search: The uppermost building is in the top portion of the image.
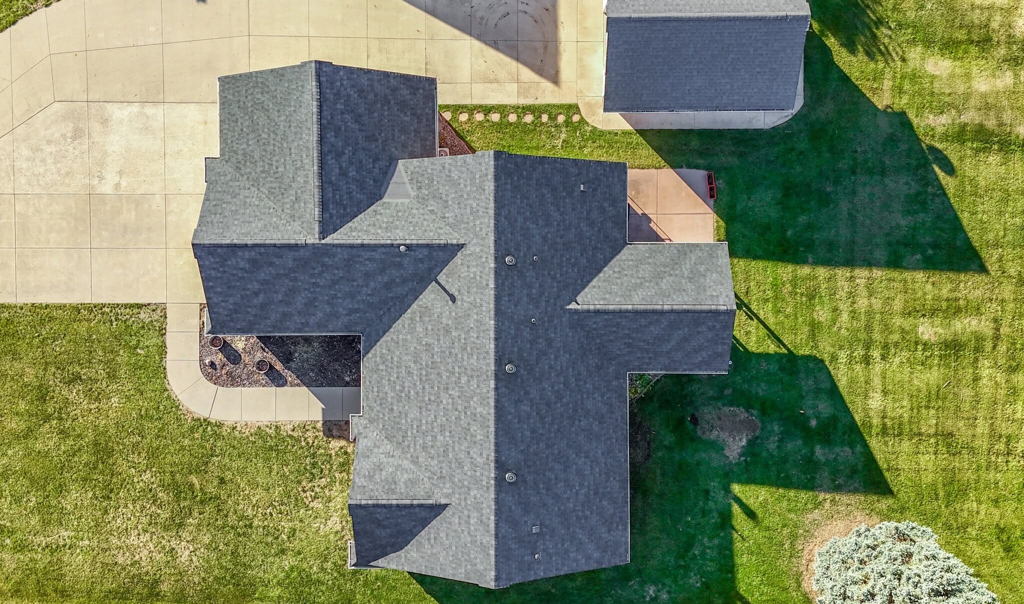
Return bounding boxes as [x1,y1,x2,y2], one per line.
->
[603,0,811,113]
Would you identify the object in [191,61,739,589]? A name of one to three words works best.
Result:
house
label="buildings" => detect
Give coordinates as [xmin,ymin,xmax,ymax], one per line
[191,61,739,589]
[603,0,811,113]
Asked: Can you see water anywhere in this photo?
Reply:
No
